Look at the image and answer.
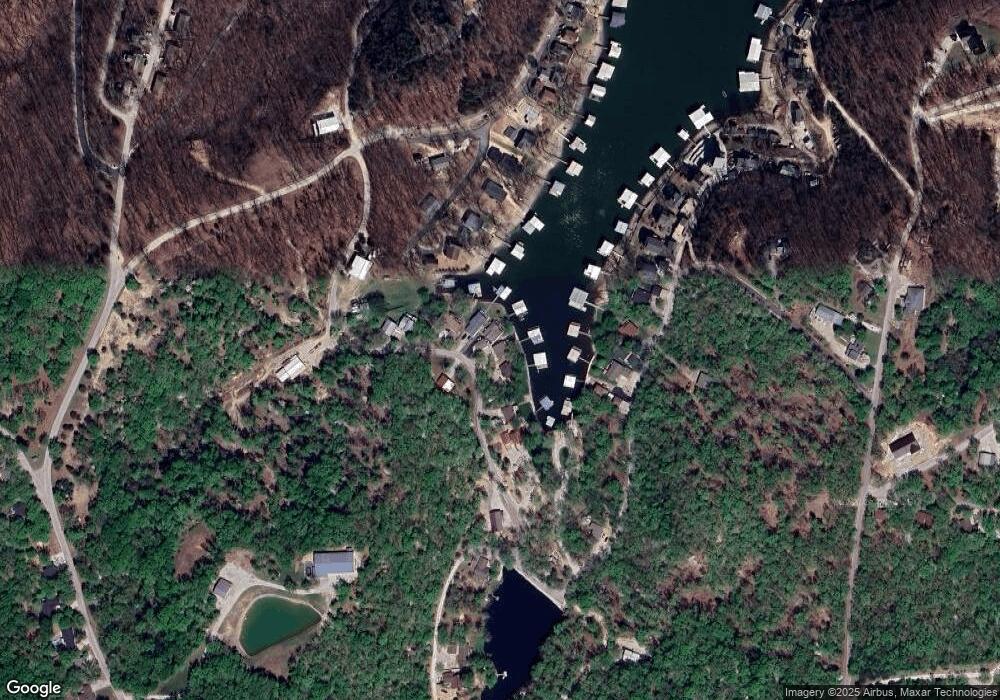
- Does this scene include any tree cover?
Yes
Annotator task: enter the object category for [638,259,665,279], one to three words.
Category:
house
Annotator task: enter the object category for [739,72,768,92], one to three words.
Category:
pier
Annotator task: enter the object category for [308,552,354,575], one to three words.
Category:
barn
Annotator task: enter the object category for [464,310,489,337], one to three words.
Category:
house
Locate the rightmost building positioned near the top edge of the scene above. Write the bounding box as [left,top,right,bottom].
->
[957,21,988,55]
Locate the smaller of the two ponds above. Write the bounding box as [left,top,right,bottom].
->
[240,597,320,656]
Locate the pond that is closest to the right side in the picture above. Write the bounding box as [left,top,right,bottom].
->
[482,568,562,700]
